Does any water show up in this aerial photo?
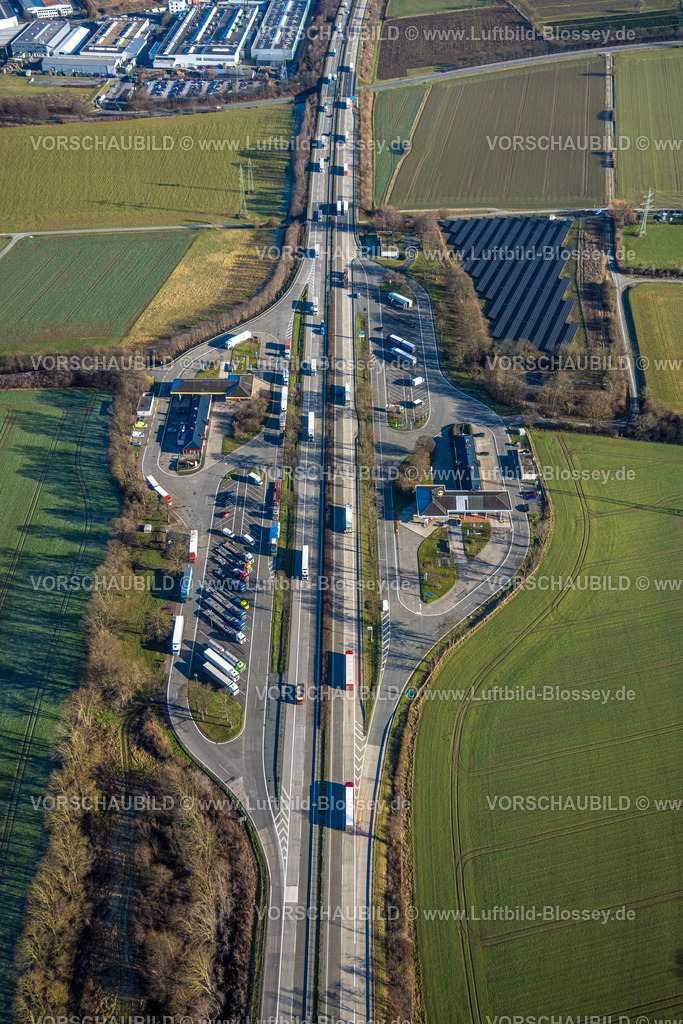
No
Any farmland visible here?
Yes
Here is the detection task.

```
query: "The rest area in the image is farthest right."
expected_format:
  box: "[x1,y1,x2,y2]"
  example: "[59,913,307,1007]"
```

[350,225,545,1024]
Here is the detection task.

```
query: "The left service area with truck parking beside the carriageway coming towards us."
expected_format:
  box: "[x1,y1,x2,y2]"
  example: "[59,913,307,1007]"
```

[132,228,314,1024]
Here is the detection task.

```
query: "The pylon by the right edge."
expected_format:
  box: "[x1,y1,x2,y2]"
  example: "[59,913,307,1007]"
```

[635,187,650,237]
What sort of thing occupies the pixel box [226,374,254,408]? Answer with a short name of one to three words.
building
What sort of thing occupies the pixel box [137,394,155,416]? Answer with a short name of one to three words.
shed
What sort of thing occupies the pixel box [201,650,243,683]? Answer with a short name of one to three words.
truck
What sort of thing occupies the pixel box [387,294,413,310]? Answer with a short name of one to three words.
vehicle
